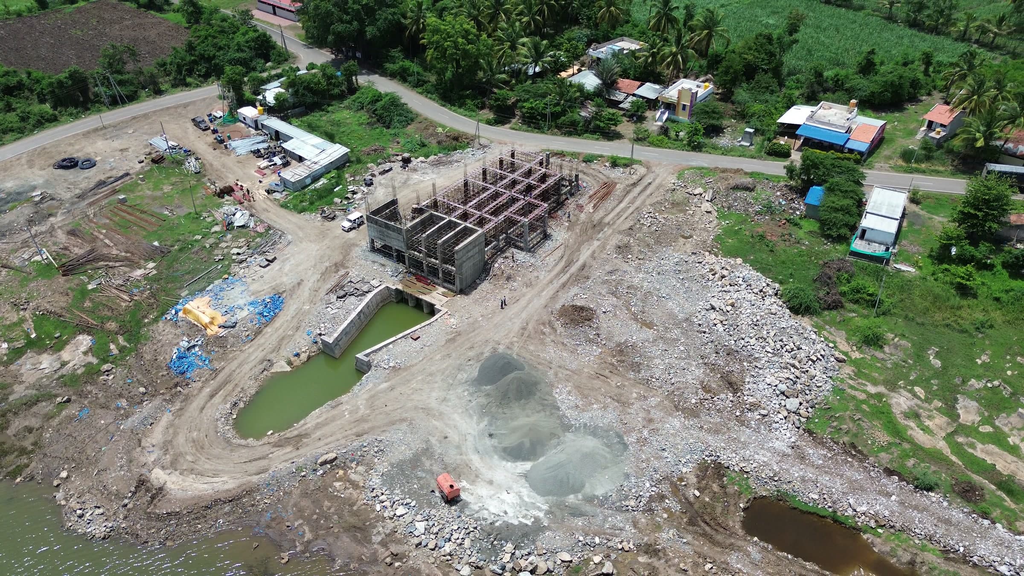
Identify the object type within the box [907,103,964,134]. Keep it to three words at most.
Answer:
house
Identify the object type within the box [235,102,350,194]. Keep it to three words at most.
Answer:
shed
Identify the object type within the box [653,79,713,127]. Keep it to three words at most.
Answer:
house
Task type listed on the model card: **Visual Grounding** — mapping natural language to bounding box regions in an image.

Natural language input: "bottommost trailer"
[435,466,465,507]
